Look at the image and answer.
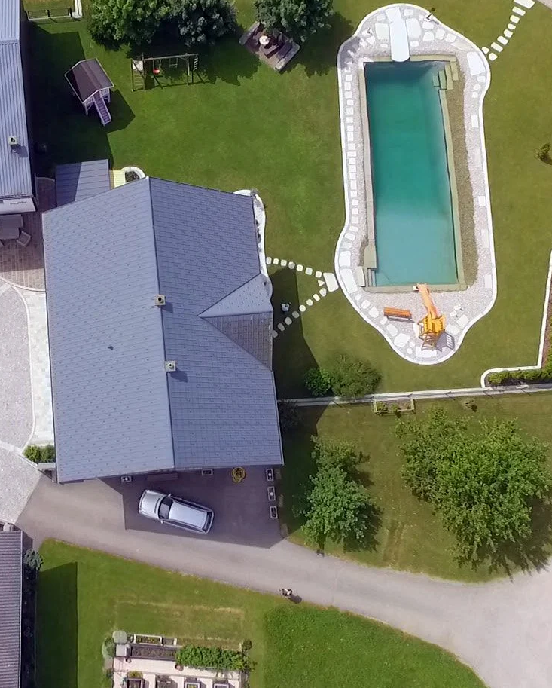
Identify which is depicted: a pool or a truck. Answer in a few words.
pool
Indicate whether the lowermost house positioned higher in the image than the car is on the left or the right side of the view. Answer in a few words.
left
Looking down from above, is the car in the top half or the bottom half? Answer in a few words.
bottom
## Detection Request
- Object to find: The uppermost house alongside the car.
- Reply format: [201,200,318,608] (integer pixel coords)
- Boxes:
[39,174,287,481]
